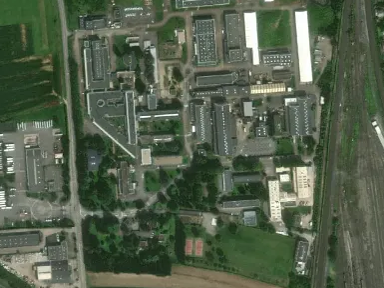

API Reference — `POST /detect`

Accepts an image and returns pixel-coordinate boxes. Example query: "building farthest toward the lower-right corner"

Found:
[296,242,309,272]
